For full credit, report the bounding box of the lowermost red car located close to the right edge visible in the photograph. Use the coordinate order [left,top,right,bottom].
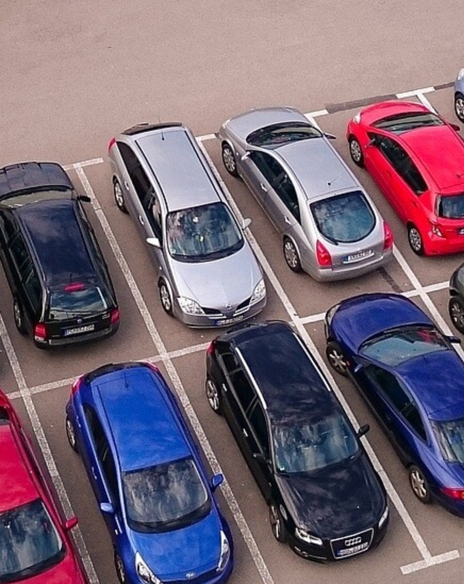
[346,99,464,254]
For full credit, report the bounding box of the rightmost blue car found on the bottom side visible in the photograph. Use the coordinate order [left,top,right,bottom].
[319,289,464,520]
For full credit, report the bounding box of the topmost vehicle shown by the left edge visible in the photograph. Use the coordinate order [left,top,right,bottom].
[0,164,127,356]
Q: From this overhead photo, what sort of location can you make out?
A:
parking lot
